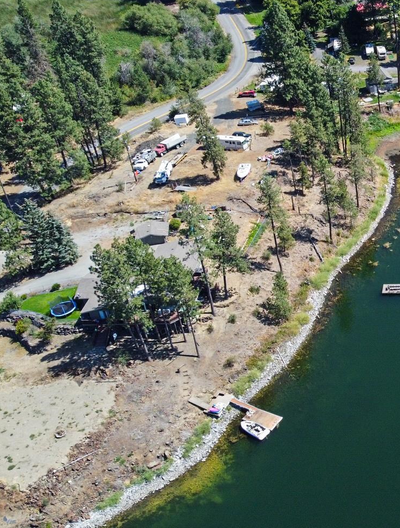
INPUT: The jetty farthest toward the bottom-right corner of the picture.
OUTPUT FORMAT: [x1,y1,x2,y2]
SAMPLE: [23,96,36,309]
[242,409,284,432]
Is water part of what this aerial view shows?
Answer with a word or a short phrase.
Yes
